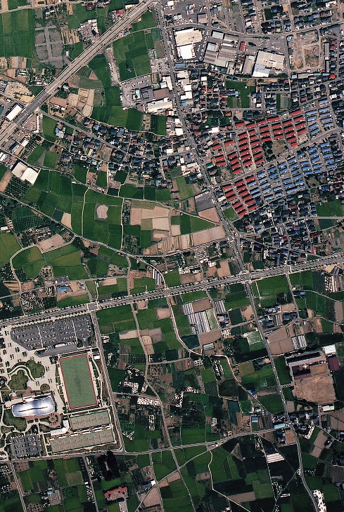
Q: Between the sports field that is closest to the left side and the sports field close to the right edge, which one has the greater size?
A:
the sports field that is closest to the left side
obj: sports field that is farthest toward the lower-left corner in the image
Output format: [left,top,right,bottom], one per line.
[58,351,99,412]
